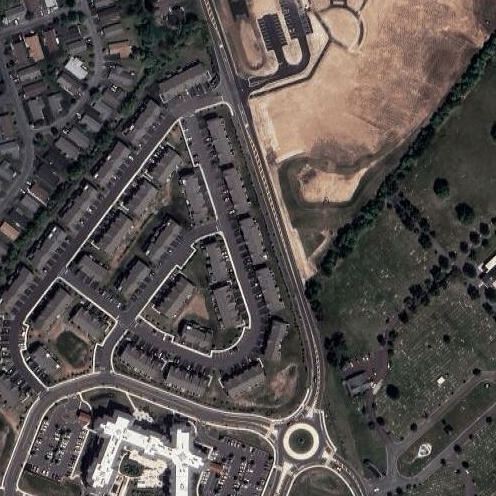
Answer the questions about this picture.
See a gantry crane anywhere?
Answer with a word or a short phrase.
No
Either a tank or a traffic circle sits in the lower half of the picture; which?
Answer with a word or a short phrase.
traffic circle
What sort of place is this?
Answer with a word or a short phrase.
residential area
